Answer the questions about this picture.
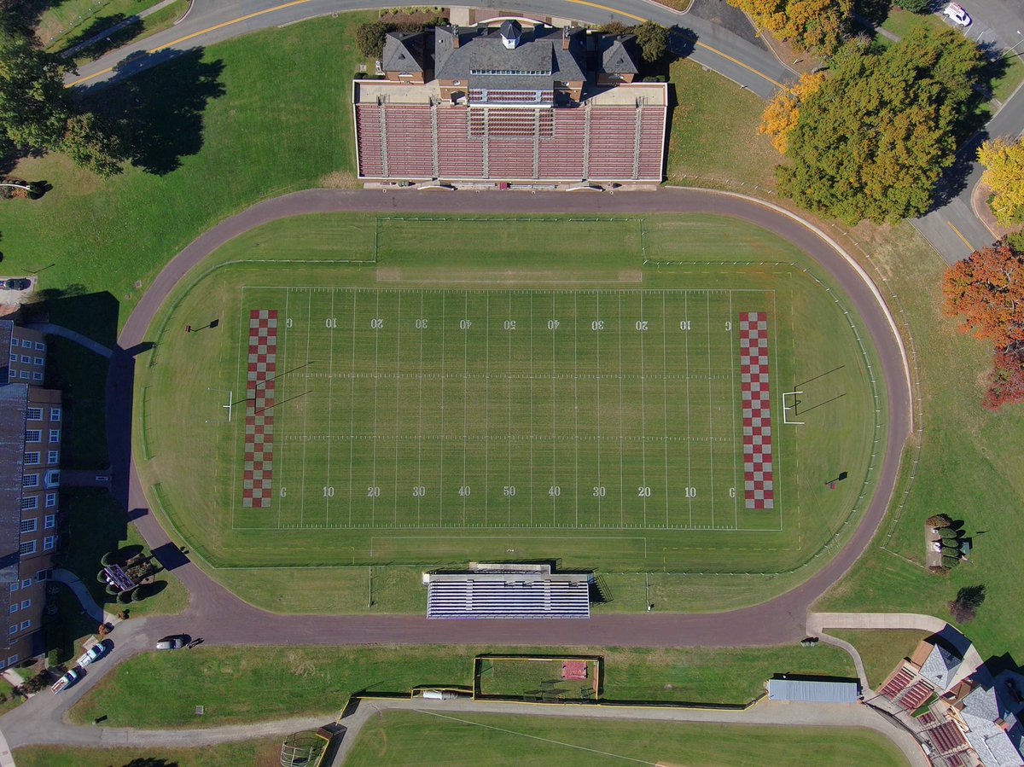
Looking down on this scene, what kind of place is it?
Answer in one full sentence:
The area seen from above is a sports ground.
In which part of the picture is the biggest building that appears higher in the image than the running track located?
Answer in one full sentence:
The biggest building that appears higher in the image than the running track appears toward the top of the photo.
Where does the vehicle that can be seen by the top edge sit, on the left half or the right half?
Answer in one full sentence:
You can find the vehicle that can be seen by the top edge on the right side of the picture.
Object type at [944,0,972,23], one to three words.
vehicle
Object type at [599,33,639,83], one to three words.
building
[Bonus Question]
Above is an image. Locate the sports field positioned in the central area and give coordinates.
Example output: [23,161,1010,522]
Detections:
[207,263,807,556]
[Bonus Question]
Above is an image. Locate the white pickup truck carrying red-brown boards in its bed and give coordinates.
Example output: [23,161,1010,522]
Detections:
[46,669,79,699]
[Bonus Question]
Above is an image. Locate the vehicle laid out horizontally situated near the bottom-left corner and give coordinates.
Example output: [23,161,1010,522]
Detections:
[155,638,181,650]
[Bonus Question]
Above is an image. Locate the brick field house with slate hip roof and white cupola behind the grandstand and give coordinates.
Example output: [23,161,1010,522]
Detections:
[435,17,587,109]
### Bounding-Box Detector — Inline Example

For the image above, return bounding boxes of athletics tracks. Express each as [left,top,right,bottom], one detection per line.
[105,188,910,648]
